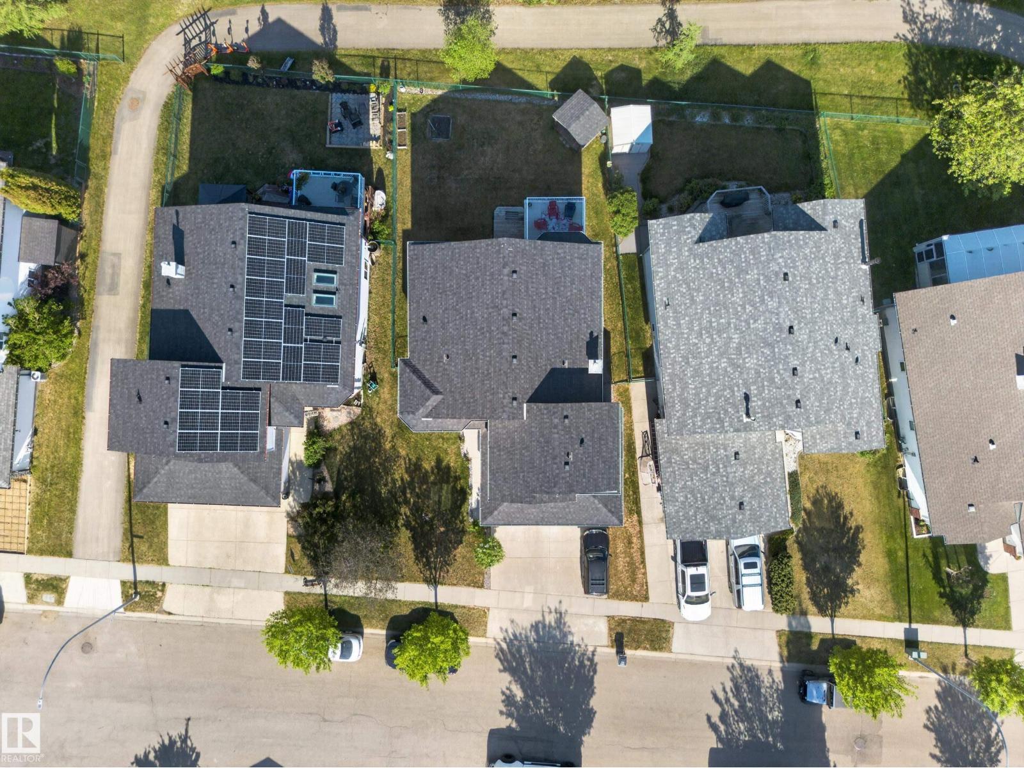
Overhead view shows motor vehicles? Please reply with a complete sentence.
Yes, the photo shows a motor vehicle.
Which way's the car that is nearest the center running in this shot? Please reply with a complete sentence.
The car that is nearest the center is oriented vertically.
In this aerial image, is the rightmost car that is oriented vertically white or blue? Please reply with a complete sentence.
The rightmost car that is oriented vertically looks white in the image.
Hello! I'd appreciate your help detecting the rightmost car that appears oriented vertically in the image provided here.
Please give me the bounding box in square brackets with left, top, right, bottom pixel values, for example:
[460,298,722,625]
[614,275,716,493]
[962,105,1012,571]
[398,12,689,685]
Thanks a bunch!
[730,535,766,612]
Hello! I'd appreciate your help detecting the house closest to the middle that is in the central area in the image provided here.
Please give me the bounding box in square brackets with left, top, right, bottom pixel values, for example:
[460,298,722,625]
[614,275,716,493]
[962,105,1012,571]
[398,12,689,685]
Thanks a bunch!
[397,230,624,526]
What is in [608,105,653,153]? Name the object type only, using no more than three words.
shed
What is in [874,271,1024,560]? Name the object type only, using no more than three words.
house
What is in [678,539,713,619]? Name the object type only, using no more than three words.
truck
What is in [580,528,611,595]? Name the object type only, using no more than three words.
car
